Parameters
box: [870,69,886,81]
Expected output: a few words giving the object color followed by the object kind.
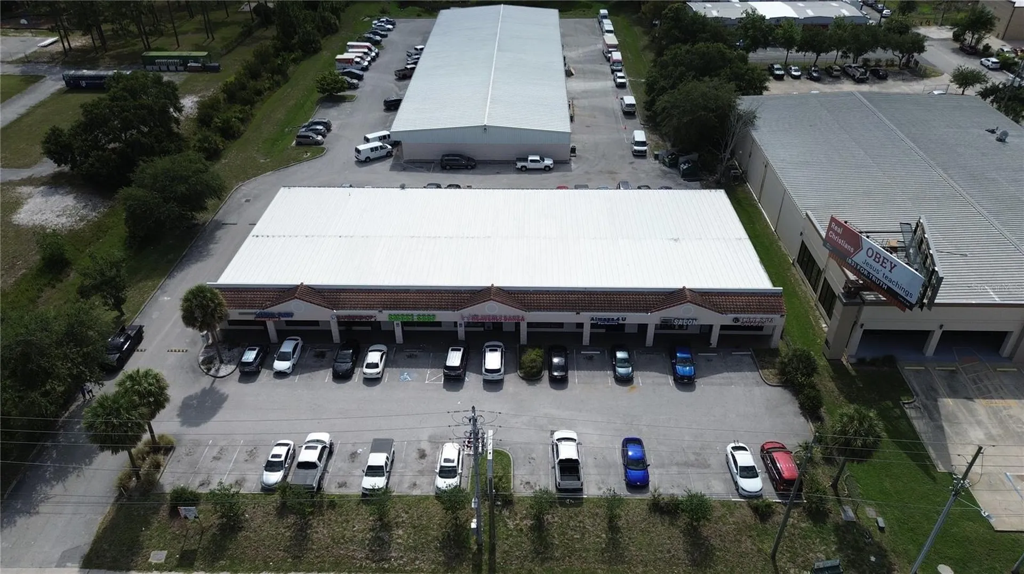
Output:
black vehicle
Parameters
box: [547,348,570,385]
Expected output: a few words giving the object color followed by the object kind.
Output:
black car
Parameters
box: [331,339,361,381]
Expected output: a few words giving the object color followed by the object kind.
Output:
black car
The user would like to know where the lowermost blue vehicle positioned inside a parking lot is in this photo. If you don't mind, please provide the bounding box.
[620,438,651,492]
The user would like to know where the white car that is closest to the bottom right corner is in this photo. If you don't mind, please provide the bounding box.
[725,445,762,501]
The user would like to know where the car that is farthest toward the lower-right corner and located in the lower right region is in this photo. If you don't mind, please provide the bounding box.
[760,445,801,496]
